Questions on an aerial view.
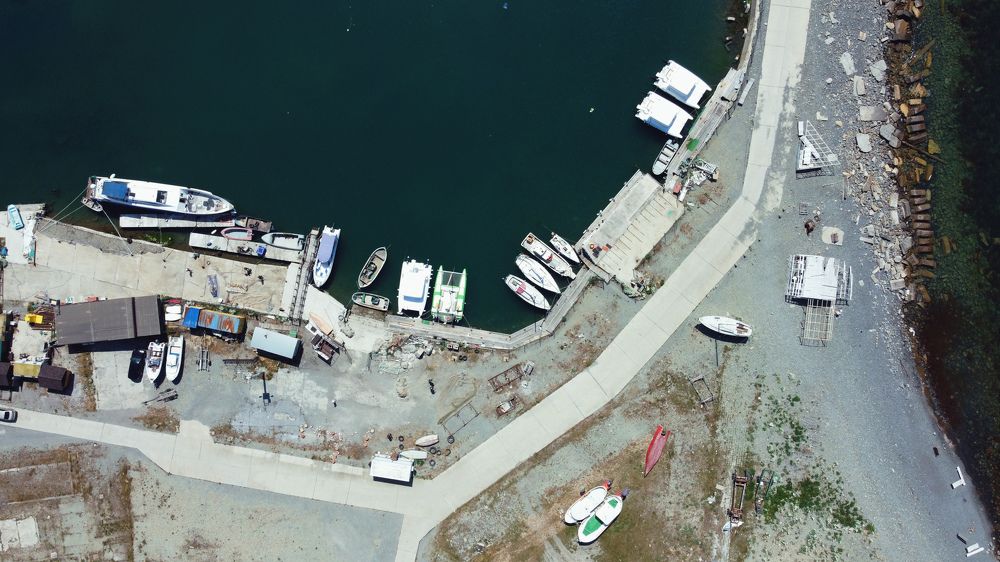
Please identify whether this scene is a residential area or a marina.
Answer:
marina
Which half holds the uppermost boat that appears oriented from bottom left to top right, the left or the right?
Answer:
right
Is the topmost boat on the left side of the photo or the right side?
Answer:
right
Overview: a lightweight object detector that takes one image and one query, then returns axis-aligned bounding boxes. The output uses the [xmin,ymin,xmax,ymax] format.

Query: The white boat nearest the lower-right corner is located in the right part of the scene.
[697,313,755,336]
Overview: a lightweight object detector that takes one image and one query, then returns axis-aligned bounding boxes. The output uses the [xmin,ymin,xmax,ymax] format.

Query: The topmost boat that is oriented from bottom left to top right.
[654,138,681,174]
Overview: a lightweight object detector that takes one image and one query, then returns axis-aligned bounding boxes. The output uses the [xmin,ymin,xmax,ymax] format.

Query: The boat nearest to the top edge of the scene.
[652,64,708,108]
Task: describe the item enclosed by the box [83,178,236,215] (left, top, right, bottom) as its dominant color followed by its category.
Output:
white boat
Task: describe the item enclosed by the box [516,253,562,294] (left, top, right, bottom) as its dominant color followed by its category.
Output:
white boat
